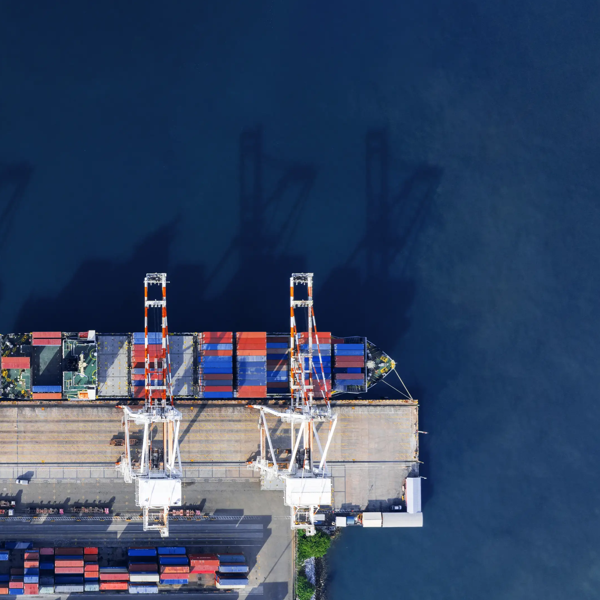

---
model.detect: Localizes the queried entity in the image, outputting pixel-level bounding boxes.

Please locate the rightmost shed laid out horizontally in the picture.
[378,512,423,527]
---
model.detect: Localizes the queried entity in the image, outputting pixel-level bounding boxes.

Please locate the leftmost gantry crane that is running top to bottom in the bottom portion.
[112,273,190,538]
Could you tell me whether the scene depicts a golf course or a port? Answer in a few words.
port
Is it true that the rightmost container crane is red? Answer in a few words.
No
